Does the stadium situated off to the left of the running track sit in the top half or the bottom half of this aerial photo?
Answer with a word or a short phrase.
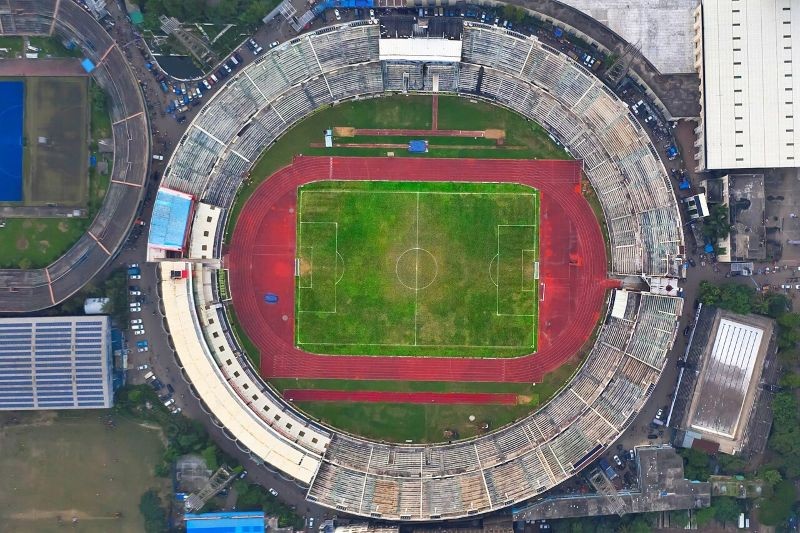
top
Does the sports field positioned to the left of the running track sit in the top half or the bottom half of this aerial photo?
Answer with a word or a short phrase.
top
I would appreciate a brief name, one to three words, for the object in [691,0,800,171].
building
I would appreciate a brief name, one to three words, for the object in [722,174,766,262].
building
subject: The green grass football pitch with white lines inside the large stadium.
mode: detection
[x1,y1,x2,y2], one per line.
[295,181,539,358]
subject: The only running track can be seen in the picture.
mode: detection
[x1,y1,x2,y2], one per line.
[223,157,609,382]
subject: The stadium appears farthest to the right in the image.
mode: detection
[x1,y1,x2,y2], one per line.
[146,8,686,521]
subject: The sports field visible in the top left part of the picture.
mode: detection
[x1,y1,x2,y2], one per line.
[0,58,91,217]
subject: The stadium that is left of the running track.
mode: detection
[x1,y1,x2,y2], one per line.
[0,0,158,315]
